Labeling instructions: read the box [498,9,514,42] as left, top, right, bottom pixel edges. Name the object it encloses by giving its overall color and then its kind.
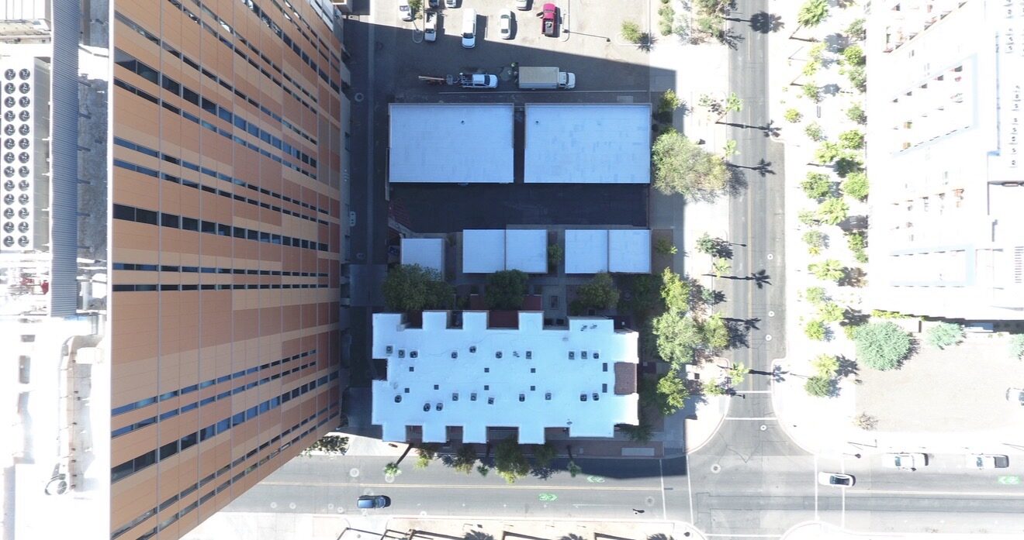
white car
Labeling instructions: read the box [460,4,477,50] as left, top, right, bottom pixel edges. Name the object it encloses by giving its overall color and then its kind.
white vehicle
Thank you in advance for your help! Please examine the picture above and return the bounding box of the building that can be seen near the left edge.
[0,0,341,540]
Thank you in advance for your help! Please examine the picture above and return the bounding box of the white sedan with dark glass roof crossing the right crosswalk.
[817,470,856,488]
